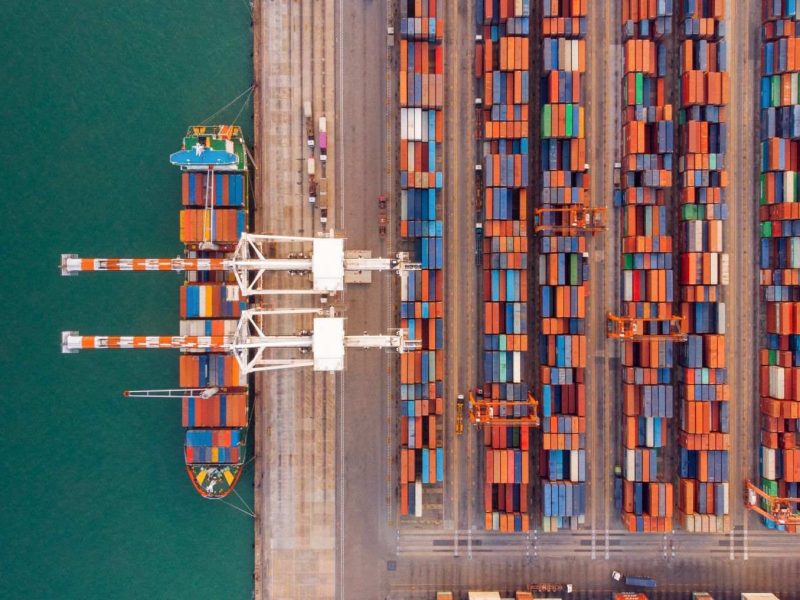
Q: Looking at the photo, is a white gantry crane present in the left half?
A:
Yes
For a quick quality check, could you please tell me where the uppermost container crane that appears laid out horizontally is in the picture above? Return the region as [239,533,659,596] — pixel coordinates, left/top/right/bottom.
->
[530,206,613,241]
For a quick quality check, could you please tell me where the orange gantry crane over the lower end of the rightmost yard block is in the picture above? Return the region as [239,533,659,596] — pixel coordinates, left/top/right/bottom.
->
[745,478,800,524]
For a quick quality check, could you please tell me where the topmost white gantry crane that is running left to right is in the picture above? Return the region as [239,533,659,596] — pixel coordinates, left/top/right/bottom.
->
[62,227,421,305]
